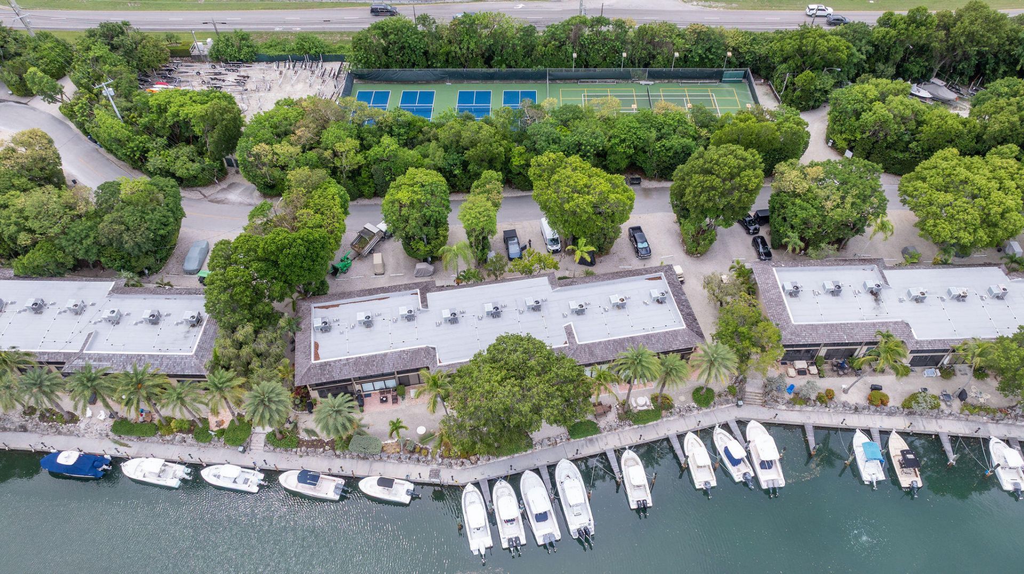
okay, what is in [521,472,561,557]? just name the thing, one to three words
boat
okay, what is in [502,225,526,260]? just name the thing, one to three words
truck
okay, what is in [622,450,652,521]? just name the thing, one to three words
boat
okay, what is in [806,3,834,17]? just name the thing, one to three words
car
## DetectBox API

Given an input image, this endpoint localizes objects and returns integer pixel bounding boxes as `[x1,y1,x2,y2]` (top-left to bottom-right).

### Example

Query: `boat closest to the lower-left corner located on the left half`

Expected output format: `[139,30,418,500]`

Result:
[40,452,119,481]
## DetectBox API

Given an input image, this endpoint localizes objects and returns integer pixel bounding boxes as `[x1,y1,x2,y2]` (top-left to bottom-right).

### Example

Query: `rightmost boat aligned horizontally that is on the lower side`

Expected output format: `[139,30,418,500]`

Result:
[359,478,423,507]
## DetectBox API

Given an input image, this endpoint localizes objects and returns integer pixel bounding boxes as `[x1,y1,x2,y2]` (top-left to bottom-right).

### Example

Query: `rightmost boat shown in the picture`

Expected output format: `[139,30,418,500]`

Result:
[987,438,1024,501]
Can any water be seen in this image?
Yes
